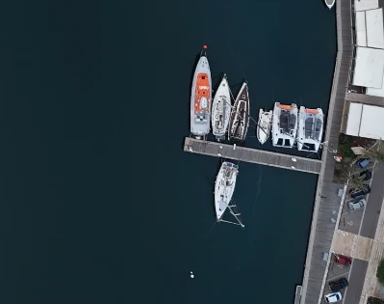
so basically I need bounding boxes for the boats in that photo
[272,102,308,147]
[323,0,335,15]
[297,106,336,154]
[230,82,265,141]
[190,51,214,139]
[214,160,249,224]
[211,75,248,140]
[255,108,272,144]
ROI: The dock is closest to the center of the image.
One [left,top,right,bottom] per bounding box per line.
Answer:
[183,137,322,173]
